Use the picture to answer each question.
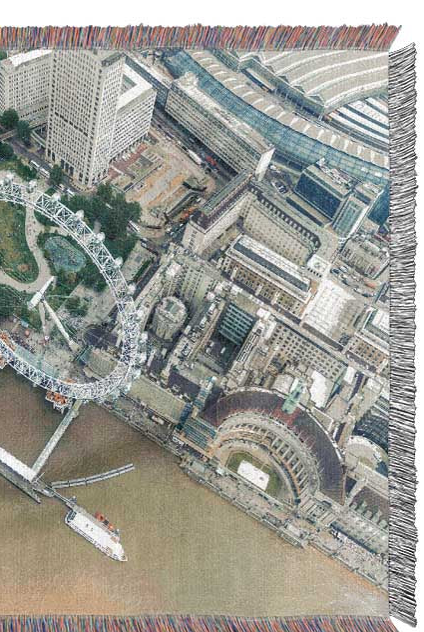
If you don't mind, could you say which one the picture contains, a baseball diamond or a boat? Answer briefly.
boat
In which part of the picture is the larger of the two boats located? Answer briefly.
bottom left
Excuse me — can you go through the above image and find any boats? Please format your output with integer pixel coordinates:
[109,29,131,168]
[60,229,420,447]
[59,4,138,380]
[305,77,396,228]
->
[94,510,115,531]
[64,505,127,561]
